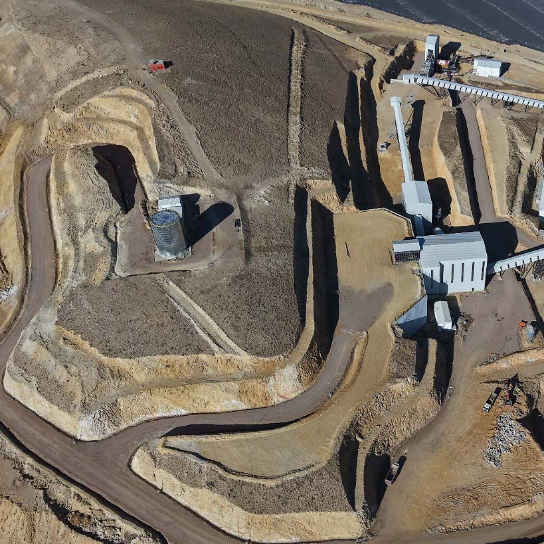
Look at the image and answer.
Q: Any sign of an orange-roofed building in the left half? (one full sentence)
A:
No, I see no orange-roofed building in the left half.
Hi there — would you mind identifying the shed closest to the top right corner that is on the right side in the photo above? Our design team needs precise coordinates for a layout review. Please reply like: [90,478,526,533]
[475,58,501,76]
